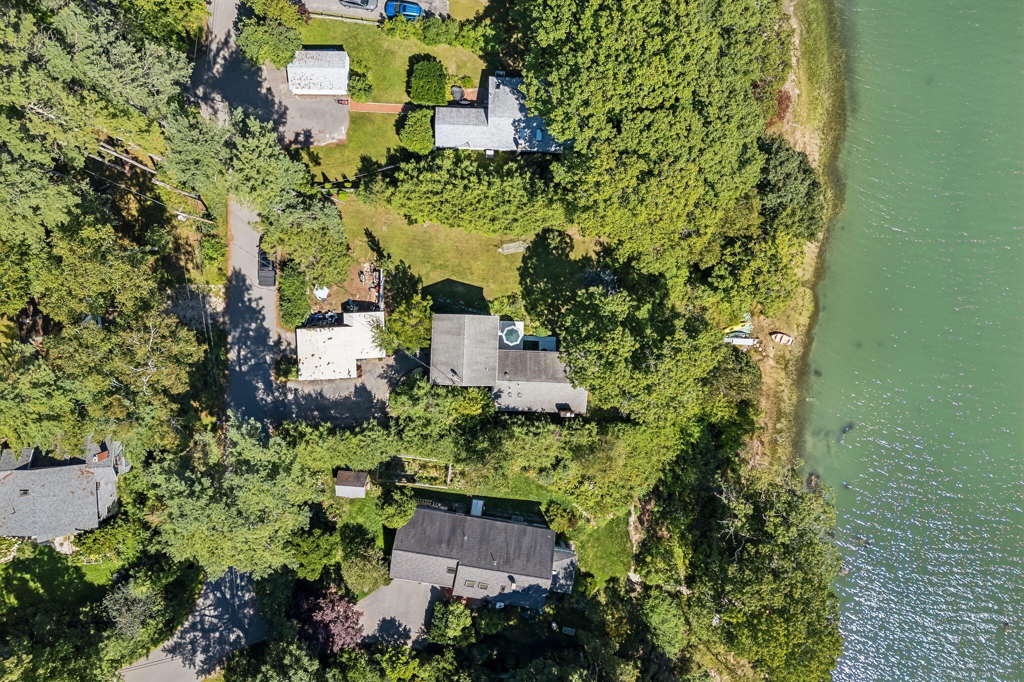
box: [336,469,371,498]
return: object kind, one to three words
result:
shed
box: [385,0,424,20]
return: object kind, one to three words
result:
car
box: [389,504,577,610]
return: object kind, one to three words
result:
house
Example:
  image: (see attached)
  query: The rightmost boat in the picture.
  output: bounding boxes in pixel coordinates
[773,334,797,347]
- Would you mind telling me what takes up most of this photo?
trees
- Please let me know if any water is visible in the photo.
Yes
